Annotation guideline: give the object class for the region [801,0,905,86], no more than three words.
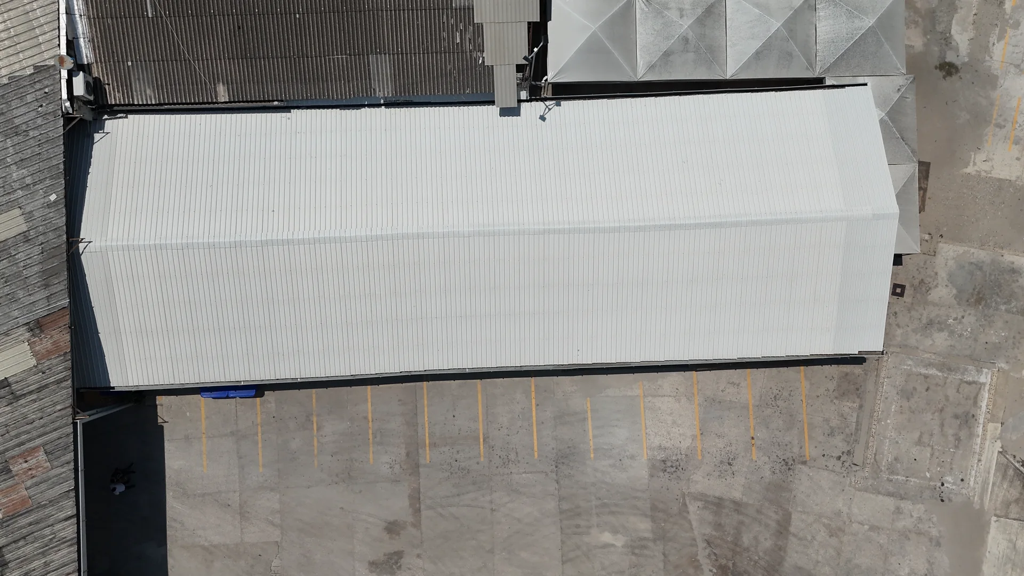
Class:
tent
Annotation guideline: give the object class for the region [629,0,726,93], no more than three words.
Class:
tent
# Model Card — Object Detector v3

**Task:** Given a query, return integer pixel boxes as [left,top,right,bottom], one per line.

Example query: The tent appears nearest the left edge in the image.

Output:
[545,0,636,97]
